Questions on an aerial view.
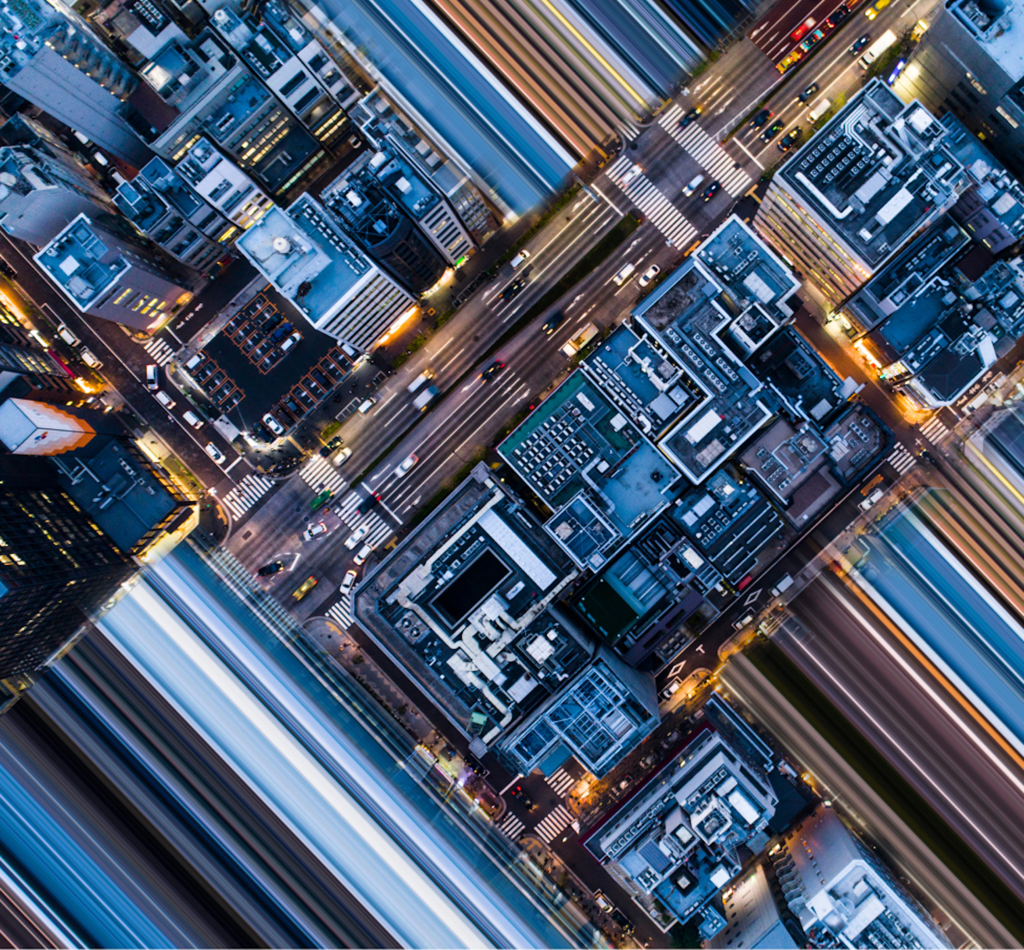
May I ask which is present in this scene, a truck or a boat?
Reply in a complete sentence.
I can see a truck in this picture.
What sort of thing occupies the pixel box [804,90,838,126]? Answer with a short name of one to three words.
truck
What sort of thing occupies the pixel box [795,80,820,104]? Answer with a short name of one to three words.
car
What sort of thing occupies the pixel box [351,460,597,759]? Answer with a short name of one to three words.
building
